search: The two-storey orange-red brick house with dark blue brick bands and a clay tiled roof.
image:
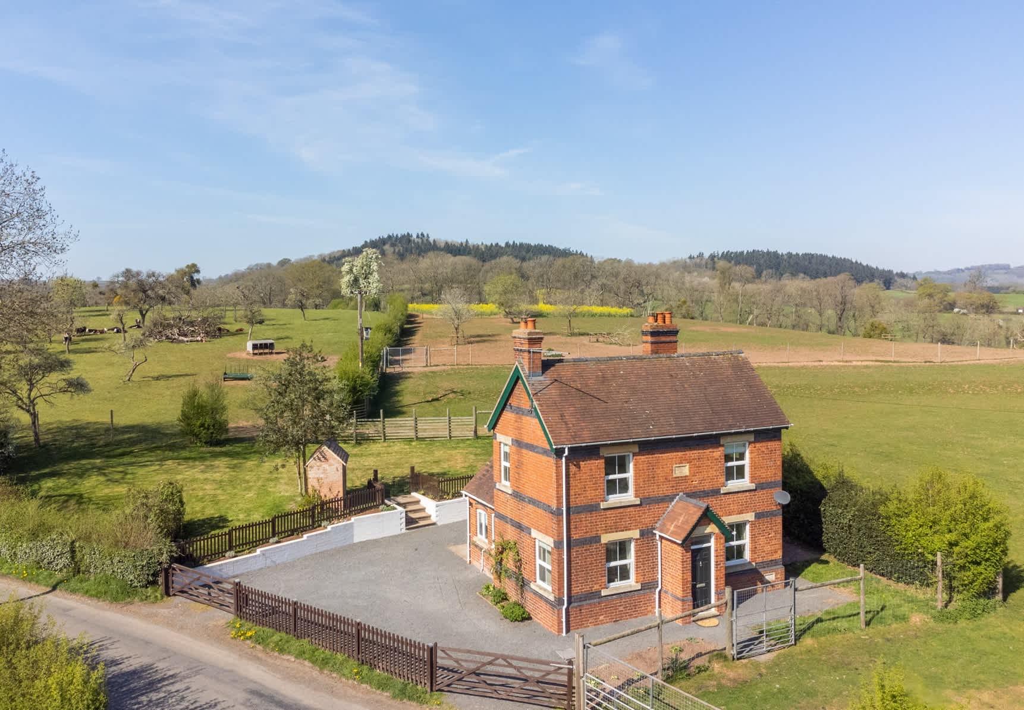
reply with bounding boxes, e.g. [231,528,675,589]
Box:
[459,312,794,634]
